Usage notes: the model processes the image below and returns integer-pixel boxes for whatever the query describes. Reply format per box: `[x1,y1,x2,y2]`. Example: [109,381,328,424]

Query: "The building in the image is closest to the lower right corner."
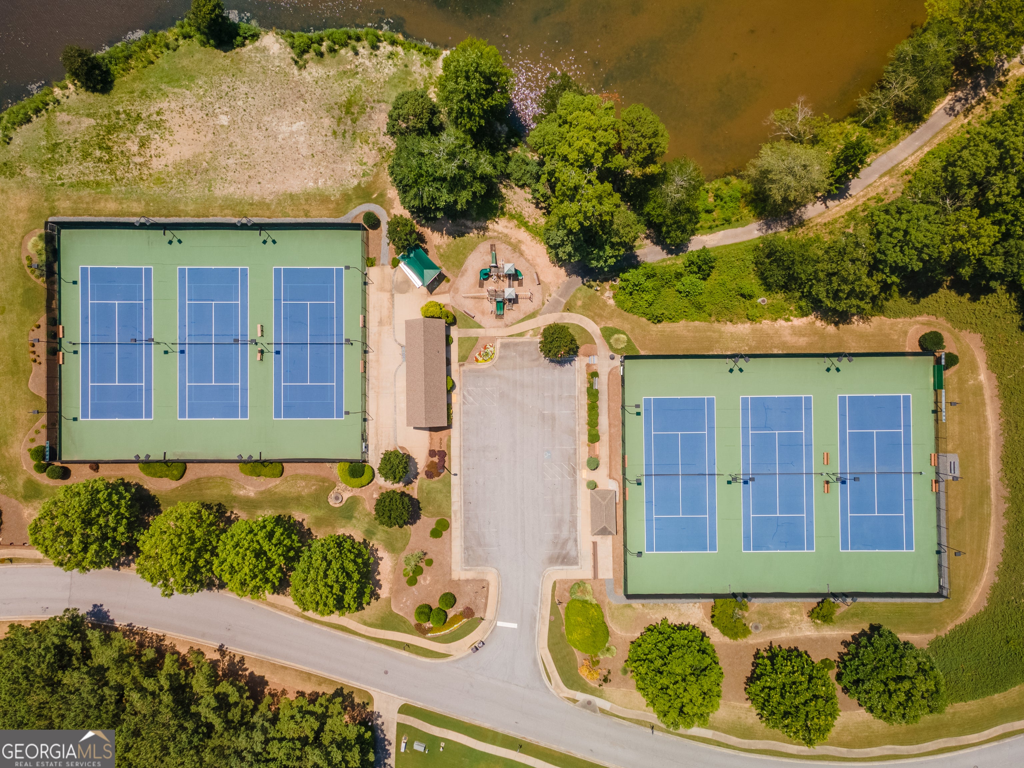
[589,488,617,536]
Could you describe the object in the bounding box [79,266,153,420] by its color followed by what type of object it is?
blue tennis court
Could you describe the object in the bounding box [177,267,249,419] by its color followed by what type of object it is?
blue tennis court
